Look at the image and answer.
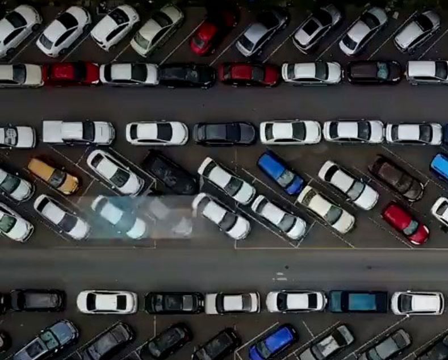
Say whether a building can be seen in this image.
No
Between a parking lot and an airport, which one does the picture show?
parking lot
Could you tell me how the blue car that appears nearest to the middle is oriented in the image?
at an angle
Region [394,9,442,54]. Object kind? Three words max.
car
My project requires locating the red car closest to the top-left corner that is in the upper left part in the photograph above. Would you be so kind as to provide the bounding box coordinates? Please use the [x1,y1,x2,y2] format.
[40,59,100,87]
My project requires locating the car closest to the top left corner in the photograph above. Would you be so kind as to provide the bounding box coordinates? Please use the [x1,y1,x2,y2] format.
[0,6,43,59]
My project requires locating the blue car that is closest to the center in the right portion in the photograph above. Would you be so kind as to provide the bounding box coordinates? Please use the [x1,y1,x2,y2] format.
[254,149,302,196]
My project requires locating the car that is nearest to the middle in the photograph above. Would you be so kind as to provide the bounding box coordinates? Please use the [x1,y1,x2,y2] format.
[199,159,256,206]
